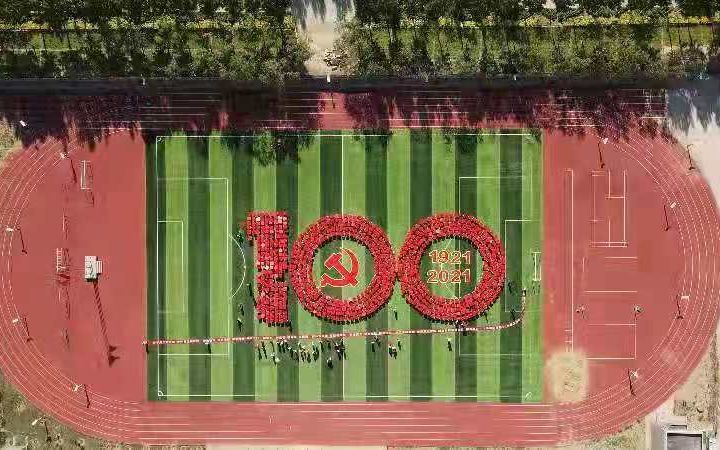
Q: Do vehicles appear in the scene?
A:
No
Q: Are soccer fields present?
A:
Yes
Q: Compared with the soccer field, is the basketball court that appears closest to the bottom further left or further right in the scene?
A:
to the right of it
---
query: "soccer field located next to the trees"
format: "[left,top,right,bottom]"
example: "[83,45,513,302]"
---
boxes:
[144,130,545,402]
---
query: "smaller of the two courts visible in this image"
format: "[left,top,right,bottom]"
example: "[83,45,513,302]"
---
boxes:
[589,169,629,248]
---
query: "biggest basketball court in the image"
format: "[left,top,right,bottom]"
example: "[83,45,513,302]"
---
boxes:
[581,254,640,361]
